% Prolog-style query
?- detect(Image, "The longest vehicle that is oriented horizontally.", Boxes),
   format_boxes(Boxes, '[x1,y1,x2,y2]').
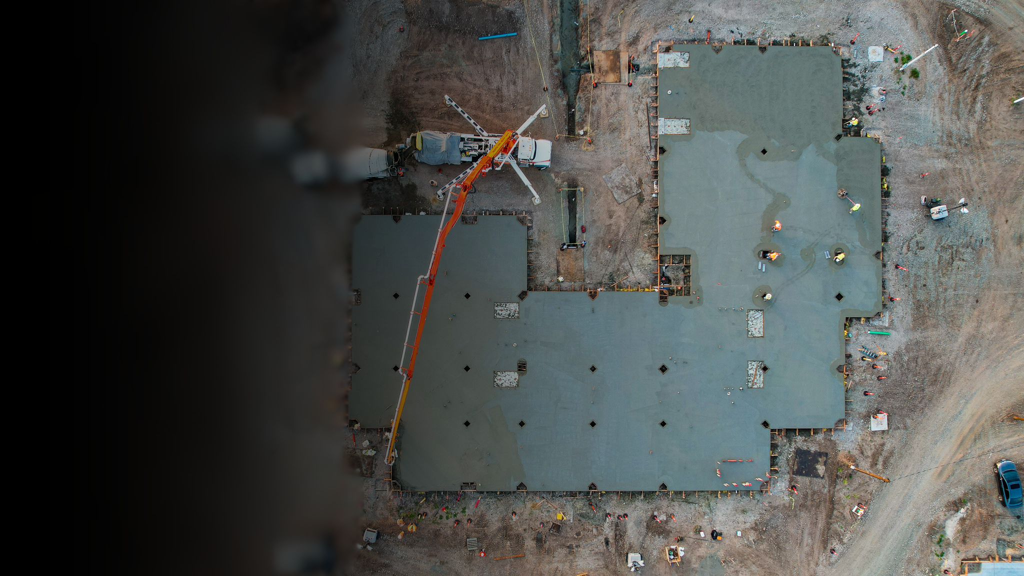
[290,144,417,186]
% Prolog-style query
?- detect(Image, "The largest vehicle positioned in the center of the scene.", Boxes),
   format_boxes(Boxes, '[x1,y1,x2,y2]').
[383,96,554,465]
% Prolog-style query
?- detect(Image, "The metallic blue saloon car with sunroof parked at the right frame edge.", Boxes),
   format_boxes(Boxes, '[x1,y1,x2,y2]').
[995,458,1024,512]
